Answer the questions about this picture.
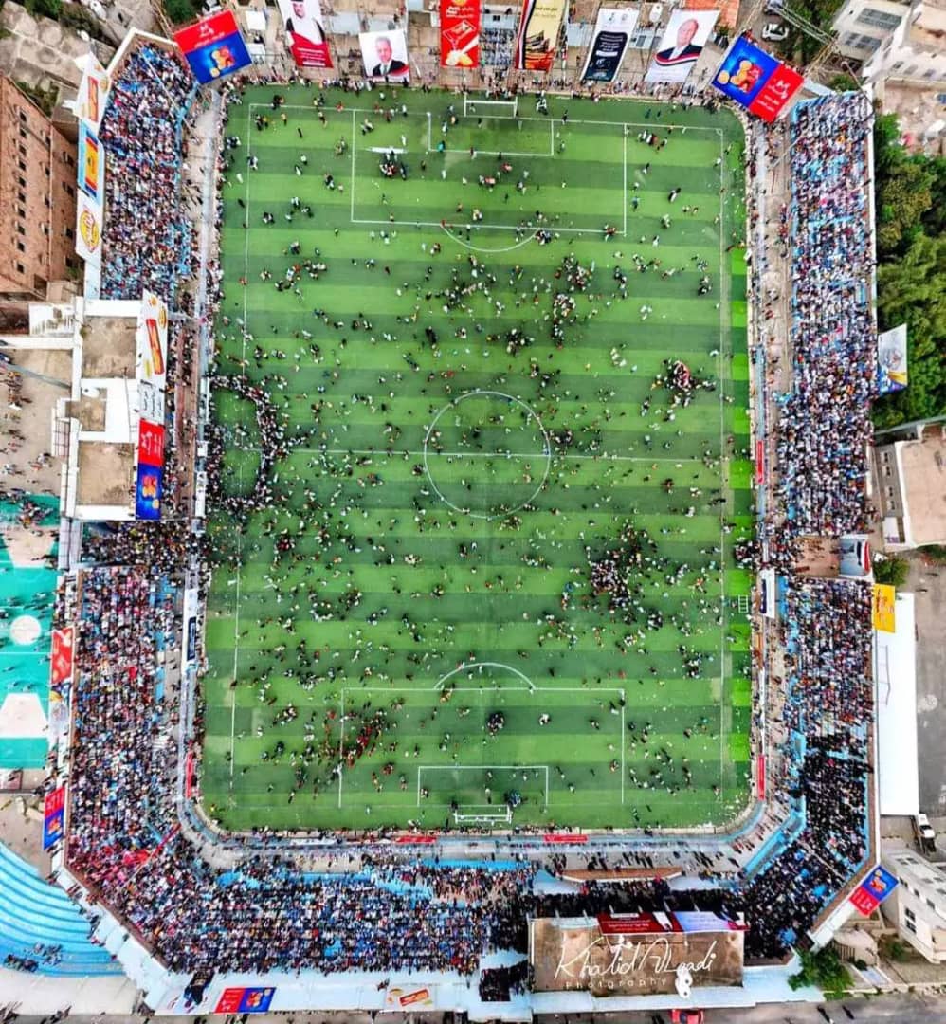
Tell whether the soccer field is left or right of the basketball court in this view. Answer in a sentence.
The soccer field appears to the right of the basketball court in this view.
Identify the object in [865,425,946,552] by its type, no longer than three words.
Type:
house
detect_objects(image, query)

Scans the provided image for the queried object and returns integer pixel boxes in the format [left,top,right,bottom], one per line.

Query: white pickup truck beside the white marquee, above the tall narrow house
[915,813,945,855]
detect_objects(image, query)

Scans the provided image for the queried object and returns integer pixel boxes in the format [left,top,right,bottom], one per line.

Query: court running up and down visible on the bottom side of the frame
[0,493,60,768]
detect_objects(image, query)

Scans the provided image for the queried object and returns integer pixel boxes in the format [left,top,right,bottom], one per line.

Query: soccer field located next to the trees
[200,85,752,832]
